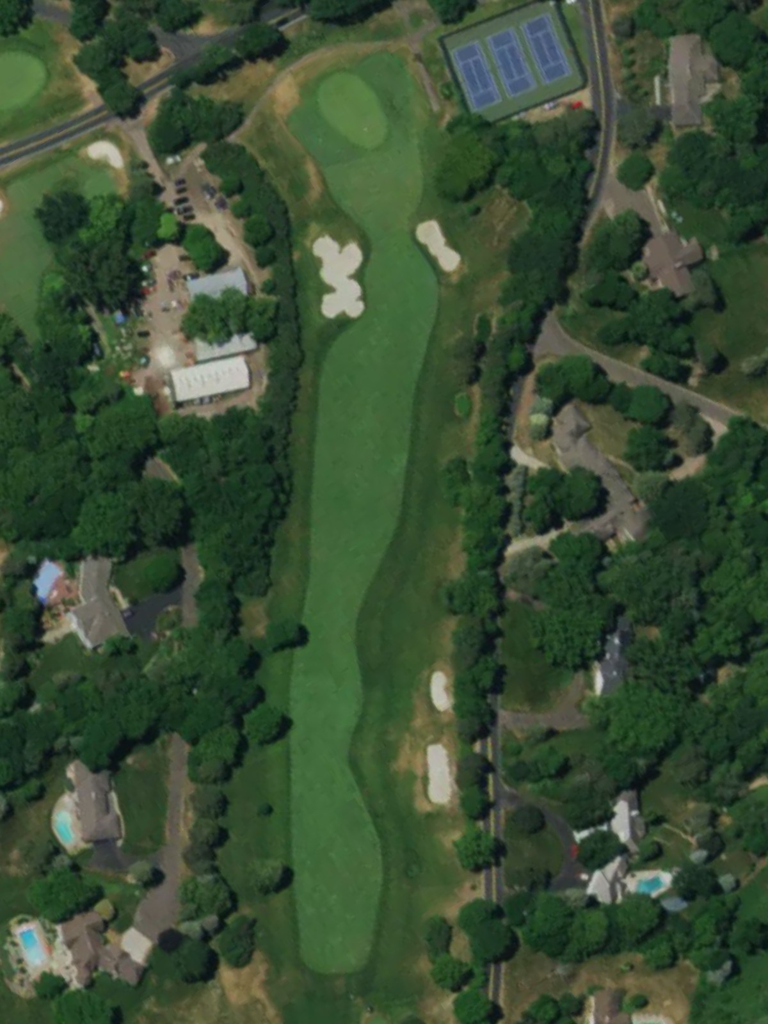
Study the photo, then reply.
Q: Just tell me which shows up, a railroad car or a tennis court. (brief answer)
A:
tennis court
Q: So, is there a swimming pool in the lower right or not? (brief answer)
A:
Yes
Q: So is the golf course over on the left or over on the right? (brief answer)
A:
left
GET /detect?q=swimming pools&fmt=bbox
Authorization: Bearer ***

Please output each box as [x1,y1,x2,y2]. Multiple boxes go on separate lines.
[13,920,54,980]
[631,1016,674,1024]
[34,560,63,605]
[52,792,93,855]
[625,870,672,897]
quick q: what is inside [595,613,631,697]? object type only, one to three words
house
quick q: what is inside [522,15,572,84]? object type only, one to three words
tennis court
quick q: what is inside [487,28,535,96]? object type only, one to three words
tennis court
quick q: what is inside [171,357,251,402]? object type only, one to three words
shed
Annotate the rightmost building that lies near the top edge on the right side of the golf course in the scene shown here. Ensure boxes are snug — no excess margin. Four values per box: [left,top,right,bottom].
[667,35,723,127]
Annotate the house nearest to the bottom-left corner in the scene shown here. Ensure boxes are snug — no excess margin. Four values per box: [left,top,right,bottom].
[56,904,151,992]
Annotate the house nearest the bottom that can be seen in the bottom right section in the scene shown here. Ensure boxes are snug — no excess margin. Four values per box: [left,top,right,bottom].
[592,988,634,1024]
